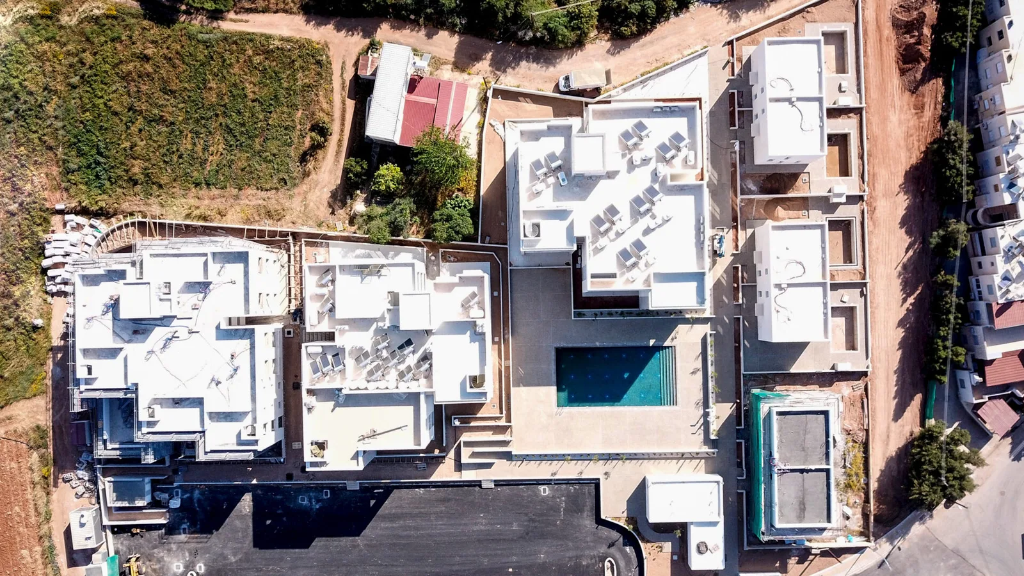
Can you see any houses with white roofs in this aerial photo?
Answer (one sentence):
Yes, the frame does contain a house with a white roof.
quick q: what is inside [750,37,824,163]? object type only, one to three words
house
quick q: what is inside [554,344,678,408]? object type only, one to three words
swimming pool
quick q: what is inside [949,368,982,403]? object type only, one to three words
house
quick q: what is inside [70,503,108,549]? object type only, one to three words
building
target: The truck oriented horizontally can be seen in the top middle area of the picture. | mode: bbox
[557,71,606,94]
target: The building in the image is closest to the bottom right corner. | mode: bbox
[967,398,1020,437]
